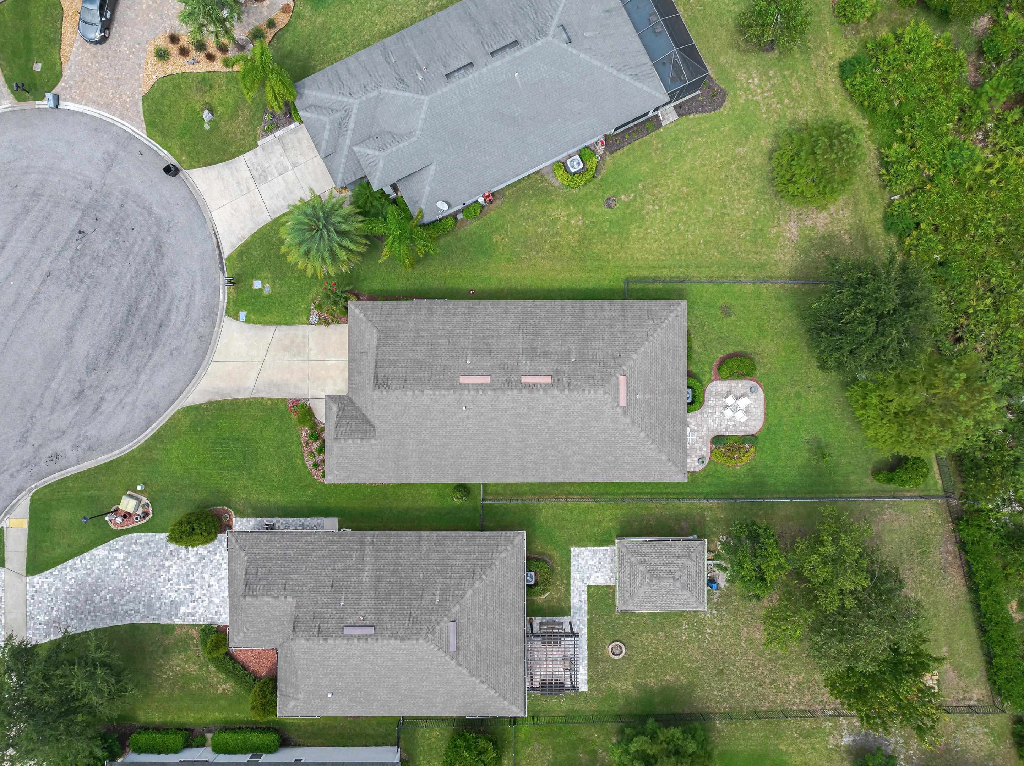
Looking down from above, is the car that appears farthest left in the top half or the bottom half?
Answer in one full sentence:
Seen from above, the car that appears farthest left lies in the top half of the view.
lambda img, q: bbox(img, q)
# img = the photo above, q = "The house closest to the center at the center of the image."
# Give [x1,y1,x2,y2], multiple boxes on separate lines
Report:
[324,299,689,484]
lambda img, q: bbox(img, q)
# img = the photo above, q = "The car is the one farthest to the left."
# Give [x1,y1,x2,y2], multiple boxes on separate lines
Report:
[75,0,113,44]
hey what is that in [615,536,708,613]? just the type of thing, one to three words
building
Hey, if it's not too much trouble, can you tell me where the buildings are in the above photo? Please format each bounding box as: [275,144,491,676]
[324,299,689,484]
[225,525,527,719]
[615,536,708,613]
[106,748,401,766]
[289,0,671,229]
